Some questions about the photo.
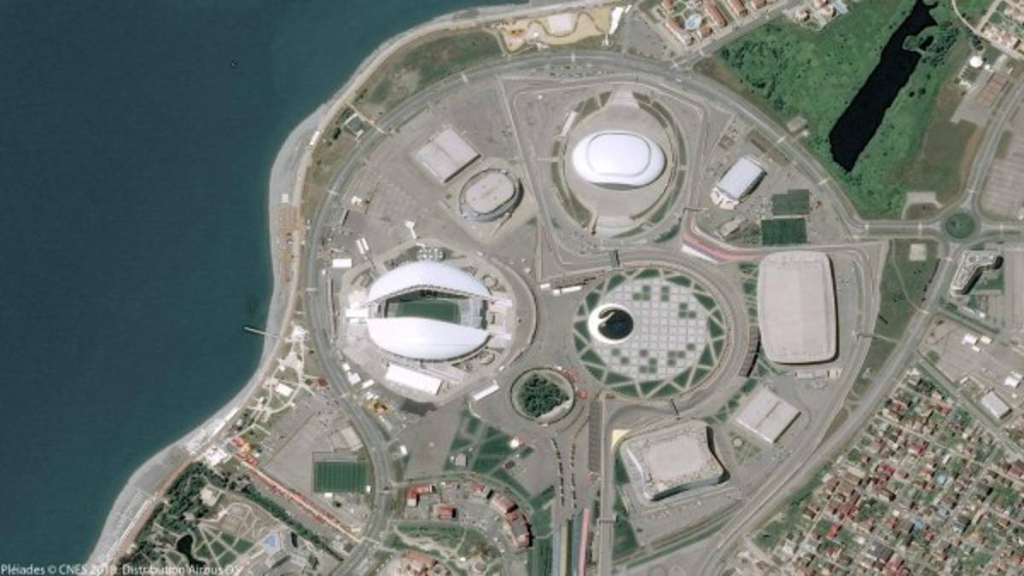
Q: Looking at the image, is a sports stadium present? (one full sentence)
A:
Yes, a sports stadium can be made out from above.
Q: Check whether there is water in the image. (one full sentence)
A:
Yes, there is water in the image.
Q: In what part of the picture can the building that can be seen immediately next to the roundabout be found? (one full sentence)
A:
You can find the building that can be seen immediately next to the roundabout in the right area of the picture.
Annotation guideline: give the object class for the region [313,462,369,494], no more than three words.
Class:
sports field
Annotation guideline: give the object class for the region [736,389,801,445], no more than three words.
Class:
building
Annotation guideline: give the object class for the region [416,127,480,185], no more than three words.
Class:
building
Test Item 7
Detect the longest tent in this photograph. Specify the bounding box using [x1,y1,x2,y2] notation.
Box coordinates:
[386,365,443,396]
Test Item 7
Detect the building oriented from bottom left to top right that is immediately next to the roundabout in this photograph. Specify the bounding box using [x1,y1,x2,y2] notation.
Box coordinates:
[950,250,999,297]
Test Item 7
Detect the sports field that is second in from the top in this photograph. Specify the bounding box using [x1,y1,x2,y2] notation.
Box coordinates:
[762,218,807,245]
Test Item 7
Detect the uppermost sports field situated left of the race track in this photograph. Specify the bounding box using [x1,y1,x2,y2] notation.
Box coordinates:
[395,299,461,324]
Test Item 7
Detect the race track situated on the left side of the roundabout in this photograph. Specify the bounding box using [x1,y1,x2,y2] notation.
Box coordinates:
[499,69,873,576]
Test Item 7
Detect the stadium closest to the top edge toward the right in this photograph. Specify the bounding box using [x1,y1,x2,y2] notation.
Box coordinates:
[574,130,665,188]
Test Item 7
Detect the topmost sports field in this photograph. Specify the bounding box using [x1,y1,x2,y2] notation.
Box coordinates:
[773,189,809,215]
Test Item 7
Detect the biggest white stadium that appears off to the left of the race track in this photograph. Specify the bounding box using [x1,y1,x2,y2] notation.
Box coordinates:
[346,261,512,362]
